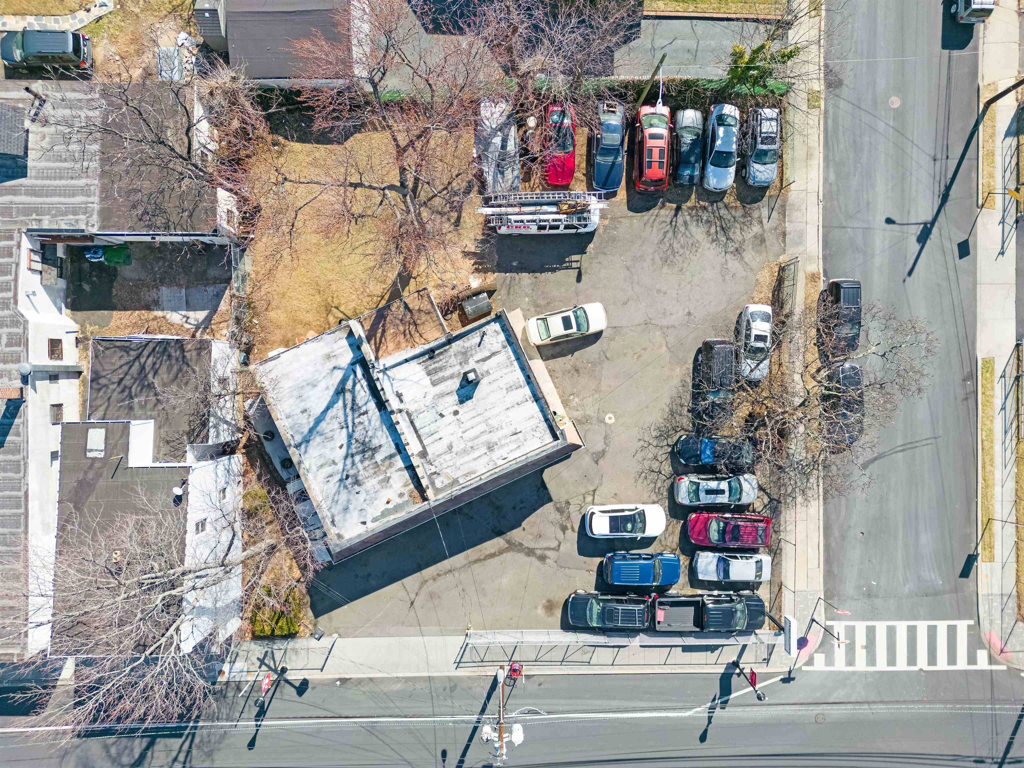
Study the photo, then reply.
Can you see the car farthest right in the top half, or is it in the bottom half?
top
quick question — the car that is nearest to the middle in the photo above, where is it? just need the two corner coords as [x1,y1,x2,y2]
[525,302,607,347]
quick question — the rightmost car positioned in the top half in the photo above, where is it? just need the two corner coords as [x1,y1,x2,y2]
[945,0,993,24]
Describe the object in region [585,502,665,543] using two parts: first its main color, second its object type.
white car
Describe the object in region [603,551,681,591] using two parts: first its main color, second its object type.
blue car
